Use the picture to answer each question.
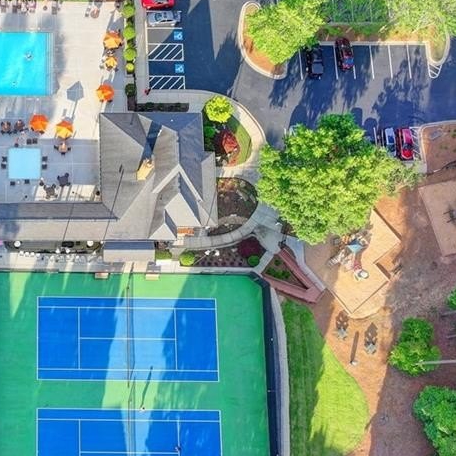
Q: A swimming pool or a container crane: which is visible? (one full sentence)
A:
Visible in the photo is a swimming pool.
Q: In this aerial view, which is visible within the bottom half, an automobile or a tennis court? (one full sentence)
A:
It is a tennis court that can be seen within the bottom half.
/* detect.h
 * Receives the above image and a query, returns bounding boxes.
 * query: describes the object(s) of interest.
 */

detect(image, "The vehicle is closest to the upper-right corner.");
[334,39,354,71]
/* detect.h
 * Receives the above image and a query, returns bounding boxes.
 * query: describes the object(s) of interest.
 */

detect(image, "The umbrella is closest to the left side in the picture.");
[31,115,48,132]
